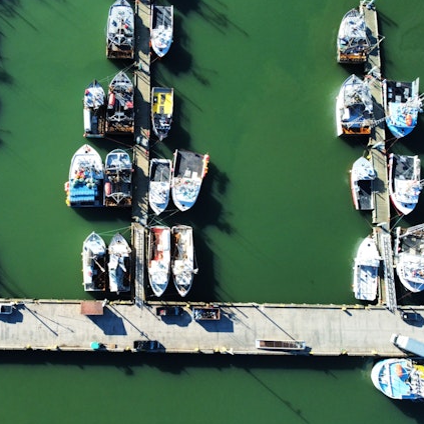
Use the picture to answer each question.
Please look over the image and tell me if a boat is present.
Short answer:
Yes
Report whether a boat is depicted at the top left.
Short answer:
Yes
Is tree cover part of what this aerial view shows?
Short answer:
No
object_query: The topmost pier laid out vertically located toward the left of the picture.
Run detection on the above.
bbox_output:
[135,0,151,61]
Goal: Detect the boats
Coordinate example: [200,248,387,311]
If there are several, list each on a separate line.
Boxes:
[104,148,133,208]
[149,3,176,57]
[169,149,208,213]
[147,158,172,216]
[147,225,171,299]
[171,225,198,300]
[149,87,174,141]
[334,3,385,67]
[83,78,106,139]
[348,156,386,211]
[385,154,424,216]
[67,142,104,208]
[108,233,134,295]
[83,231,106,291]
[106,0,136,62]
[332,71,395,138]
[106,68,136,138]
[349,237,383,301]
[369,356,424,403]
[390,225,424,294]
[379,78,424,138]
